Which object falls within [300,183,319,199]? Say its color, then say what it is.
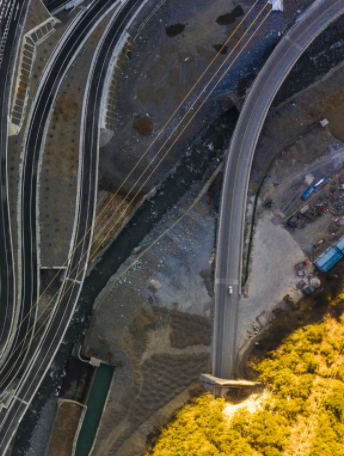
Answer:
blue vehicle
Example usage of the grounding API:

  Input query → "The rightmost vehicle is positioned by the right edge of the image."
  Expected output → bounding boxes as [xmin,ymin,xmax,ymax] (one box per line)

[315,174,332,190]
